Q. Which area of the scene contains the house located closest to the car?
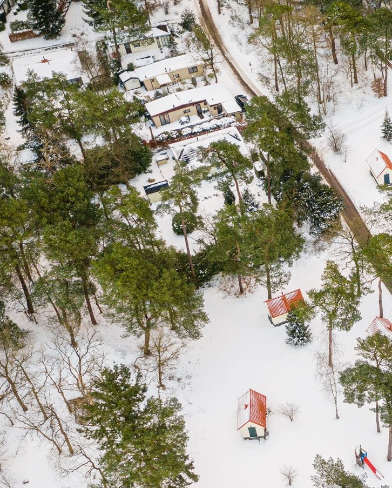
top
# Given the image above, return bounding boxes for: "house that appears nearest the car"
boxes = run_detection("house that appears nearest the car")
[143,84,238,129]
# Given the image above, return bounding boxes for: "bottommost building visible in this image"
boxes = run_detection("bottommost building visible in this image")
[237,388,267,438]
